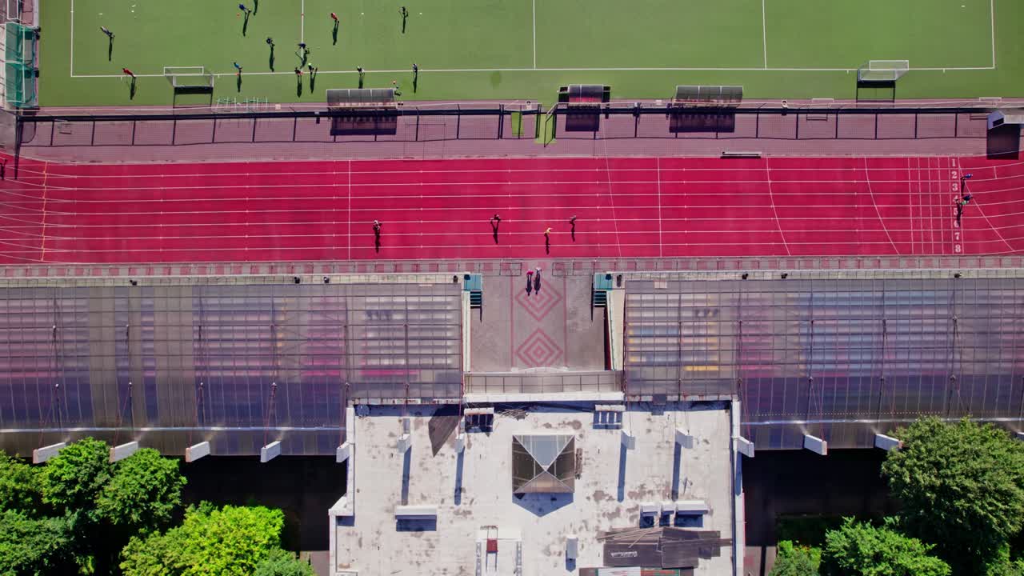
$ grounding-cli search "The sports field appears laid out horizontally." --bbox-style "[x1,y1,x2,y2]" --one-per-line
[34,0,1024,107]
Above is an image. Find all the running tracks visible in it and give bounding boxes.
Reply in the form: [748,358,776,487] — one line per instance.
[0,144,1024,265]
